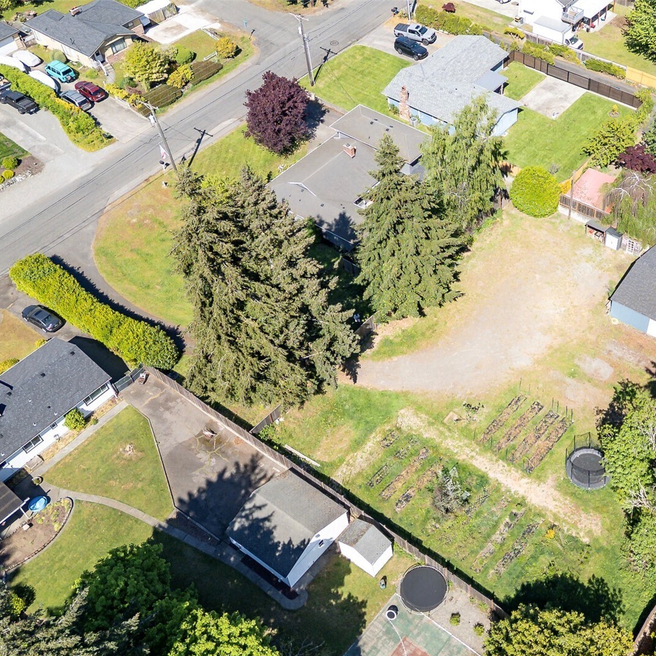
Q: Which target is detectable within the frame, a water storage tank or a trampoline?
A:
trampoline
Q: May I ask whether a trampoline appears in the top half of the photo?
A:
No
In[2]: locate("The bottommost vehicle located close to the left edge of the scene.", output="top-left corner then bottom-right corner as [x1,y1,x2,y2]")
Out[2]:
[15,301,66,335]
